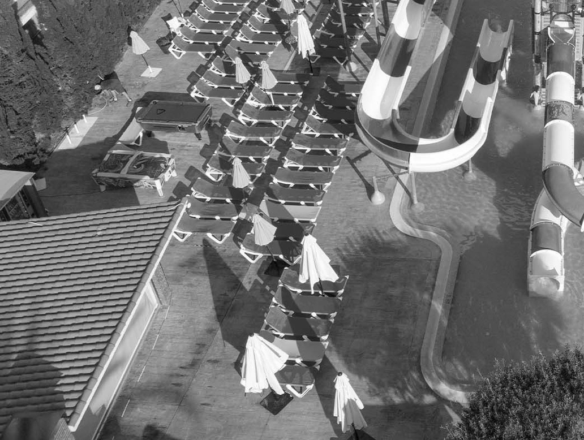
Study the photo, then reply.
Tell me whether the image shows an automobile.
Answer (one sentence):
No, there appears to be no automobile in this shot.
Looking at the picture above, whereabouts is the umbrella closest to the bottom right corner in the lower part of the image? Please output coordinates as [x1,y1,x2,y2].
[330,372,374,440]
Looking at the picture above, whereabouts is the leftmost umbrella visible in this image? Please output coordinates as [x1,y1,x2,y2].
[132,32,151,70]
